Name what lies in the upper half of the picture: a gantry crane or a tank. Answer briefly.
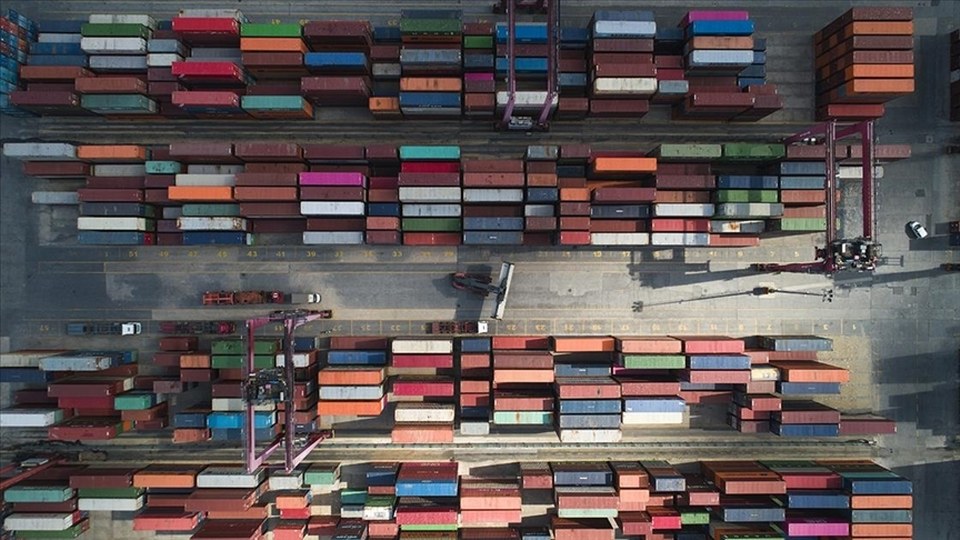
gantry crane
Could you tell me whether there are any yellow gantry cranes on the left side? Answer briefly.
No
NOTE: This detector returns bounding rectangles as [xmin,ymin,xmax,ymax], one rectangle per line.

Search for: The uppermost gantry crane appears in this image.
[488,0,559,130]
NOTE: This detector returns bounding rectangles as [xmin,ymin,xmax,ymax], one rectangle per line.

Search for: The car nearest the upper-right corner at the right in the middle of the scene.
[908,219,926,239]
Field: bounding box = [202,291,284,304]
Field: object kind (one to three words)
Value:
vehicle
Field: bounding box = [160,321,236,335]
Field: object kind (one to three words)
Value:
vehicle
